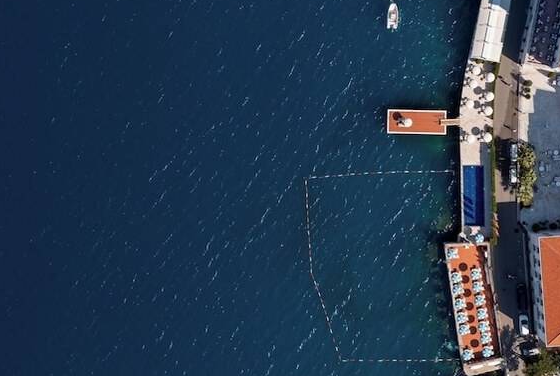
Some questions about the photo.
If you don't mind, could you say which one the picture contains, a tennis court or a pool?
pool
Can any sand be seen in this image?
No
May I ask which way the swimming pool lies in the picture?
vertically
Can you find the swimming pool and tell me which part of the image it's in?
right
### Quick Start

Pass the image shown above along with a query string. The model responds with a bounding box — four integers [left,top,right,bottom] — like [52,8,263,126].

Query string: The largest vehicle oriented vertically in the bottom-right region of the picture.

[515,282,528,310]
